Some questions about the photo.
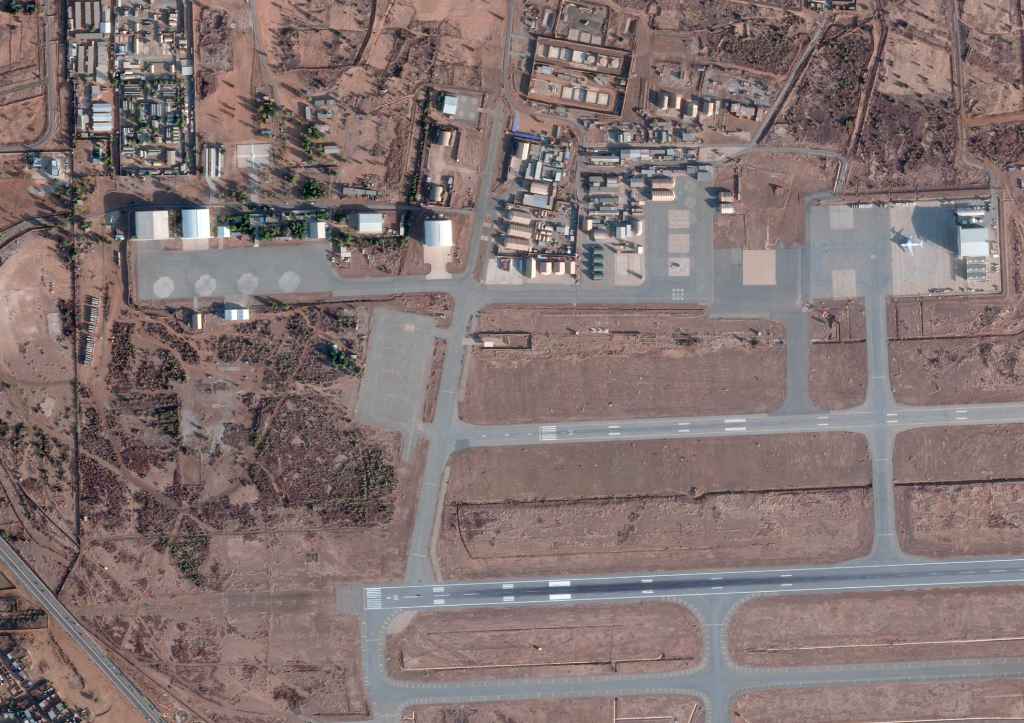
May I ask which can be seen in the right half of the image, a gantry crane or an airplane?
airplane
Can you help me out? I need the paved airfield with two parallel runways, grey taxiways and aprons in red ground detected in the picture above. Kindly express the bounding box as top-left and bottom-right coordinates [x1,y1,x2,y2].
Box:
[137,101,1024,723]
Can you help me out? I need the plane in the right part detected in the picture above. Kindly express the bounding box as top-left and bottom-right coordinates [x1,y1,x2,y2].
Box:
[901,233,925,257]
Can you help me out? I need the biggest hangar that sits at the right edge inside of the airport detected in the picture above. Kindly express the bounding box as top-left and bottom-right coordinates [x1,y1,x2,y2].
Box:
[957,227,989,256]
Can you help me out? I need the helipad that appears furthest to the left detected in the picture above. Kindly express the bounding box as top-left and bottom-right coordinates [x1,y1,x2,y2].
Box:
[153,277,174,298]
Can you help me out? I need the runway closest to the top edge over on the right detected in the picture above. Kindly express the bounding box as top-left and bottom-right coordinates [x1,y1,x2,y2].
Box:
[480,402,1024,447]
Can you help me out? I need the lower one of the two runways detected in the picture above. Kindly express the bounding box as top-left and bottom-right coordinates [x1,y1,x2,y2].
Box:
[336,556,1024,615]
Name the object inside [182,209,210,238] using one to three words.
hangar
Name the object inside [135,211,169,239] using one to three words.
hangar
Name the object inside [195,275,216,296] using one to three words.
helipad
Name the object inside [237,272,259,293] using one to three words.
helipad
